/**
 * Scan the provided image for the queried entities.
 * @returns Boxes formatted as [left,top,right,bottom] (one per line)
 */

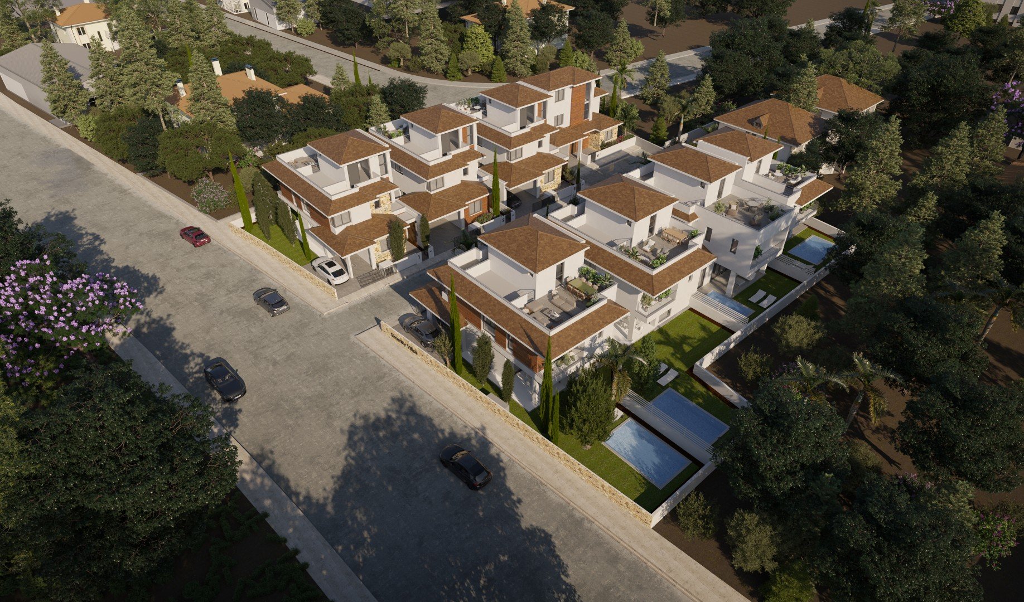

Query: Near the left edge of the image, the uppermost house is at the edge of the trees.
[46,0,119,54]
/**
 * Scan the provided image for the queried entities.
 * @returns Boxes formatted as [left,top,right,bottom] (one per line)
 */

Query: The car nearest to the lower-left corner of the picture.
[201,358,248,397]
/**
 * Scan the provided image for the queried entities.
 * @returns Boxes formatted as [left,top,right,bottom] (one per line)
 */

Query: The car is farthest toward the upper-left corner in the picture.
[180,226,211,247]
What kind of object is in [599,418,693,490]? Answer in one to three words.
swimming pool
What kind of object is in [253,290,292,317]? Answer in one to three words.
car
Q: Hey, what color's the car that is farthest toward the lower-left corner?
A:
black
